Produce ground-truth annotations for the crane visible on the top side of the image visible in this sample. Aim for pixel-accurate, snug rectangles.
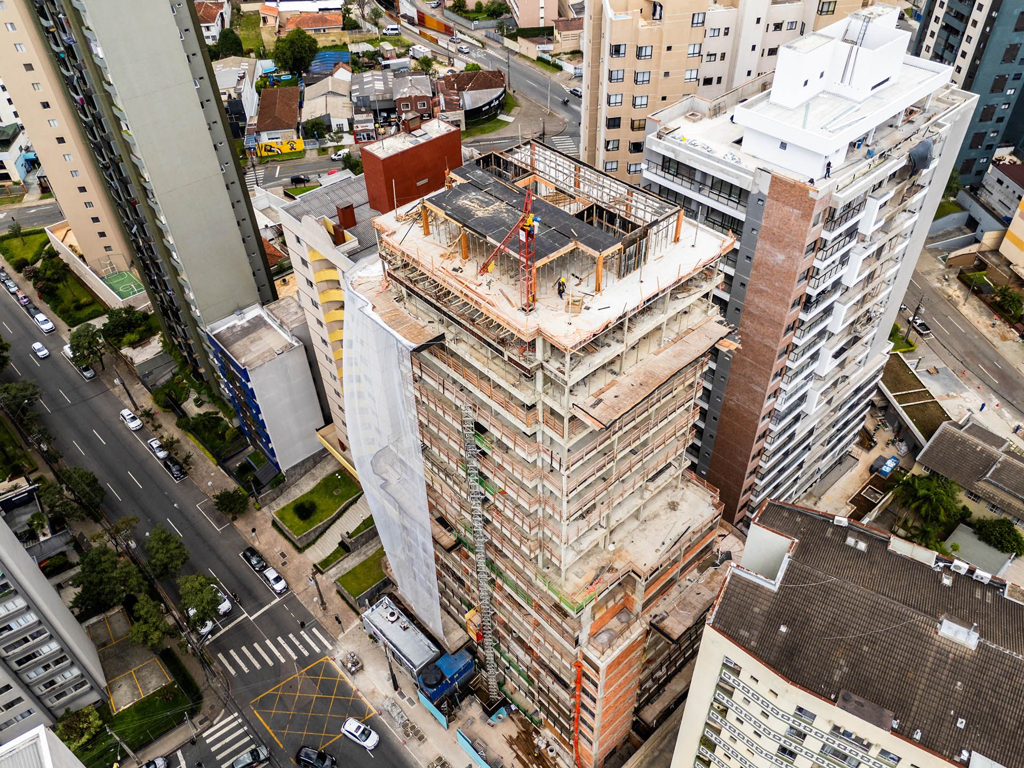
[474,189,548,319]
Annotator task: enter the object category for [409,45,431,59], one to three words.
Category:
vehicle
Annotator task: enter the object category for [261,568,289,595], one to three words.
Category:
car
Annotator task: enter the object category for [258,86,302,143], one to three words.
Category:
house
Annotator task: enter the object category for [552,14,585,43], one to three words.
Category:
house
